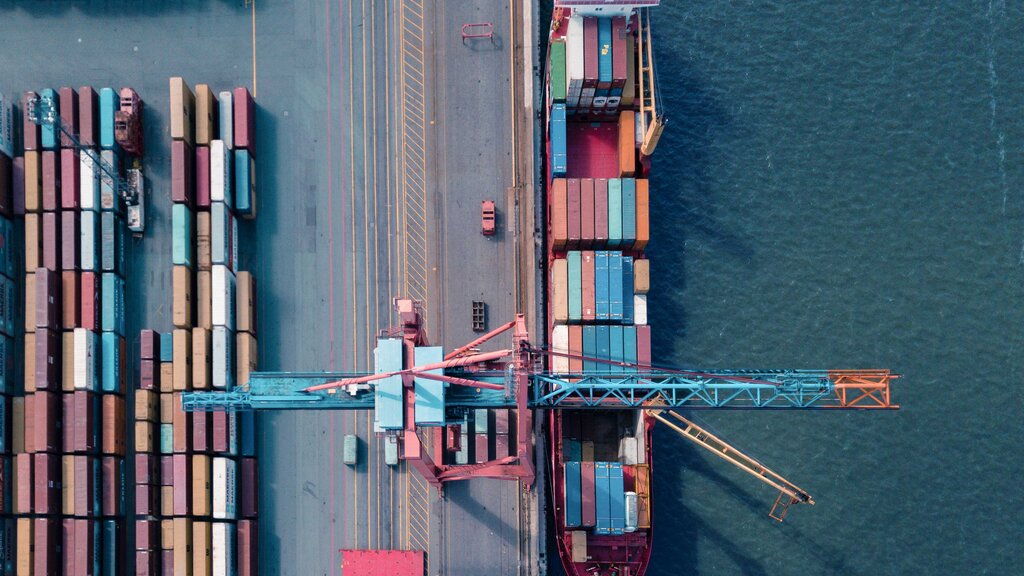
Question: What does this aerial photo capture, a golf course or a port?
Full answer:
The area seen from above is a port.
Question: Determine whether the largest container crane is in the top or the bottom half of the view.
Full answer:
Seen from above, the largest container crane lies in the bottom half of the view.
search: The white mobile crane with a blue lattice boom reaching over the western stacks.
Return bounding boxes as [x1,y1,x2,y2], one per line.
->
[28,97,150,238]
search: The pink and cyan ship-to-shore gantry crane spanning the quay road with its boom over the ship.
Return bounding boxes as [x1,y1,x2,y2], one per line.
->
[181,298,900,497]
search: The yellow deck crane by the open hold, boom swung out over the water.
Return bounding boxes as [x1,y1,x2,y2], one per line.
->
[640,402,816,525]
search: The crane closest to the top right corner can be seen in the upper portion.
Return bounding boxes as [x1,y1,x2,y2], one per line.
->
[634,2,668,179]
